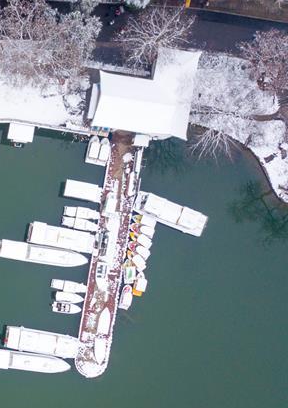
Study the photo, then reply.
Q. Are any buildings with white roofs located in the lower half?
No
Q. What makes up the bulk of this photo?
water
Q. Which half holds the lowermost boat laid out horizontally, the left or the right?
left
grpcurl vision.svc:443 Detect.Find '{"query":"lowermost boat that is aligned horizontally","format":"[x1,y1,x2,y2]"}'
[0,347,70,370]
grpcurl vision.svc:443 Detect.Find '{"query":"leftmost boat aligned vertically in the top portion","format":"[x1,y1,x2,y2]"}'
[83,136,100,164]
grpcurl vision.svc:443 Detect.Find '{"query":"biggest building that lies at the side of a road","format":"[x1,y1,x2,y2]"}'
[93,47,202,140]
